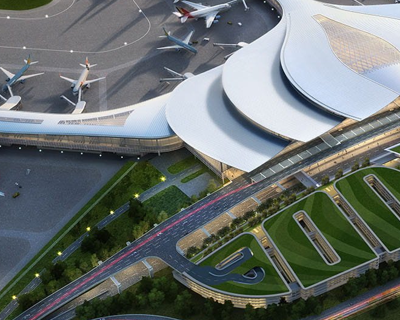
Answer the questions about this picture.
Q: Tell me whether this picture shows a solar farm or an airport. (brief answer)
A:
airport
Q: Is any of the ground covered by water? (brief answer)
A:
No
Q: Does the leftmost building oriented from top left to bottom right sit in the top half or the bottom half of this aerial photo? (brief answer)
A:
bottom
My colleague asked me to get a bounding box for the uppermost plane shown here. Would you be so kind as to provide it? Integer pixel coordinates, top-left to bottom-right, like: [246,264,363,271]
[173,0,230,24]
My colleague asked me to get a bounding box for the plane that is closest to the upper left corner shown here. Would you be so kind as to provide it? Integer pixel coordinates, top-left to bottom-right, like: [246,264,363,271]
[0,54,43,90]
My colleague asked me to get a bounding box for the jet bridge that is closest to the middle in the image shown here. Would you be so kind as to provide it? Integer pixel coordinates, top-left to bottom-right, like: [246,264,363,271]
[159,66,192,84]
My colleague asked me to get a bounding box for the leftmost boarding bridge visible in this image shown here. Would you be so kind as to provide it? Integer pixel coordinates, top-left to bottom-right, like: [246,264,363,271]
[0,83,24,110]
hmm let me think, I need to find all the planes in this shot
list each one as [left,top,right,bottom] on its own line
[160,30,196,53]
[59,60,108,94]
[173,0,230,24]
[0,54,43,90]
